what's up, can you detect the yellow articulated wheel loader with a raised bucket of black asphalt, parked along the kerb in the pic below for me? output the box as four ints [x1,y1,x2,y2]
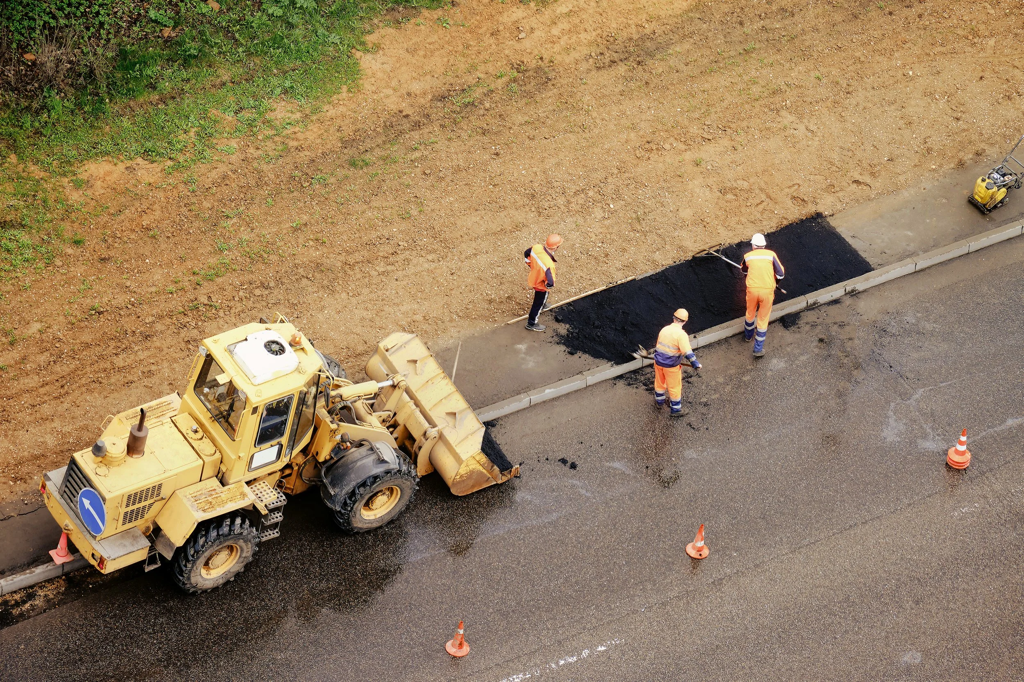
[39,309,524,594]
